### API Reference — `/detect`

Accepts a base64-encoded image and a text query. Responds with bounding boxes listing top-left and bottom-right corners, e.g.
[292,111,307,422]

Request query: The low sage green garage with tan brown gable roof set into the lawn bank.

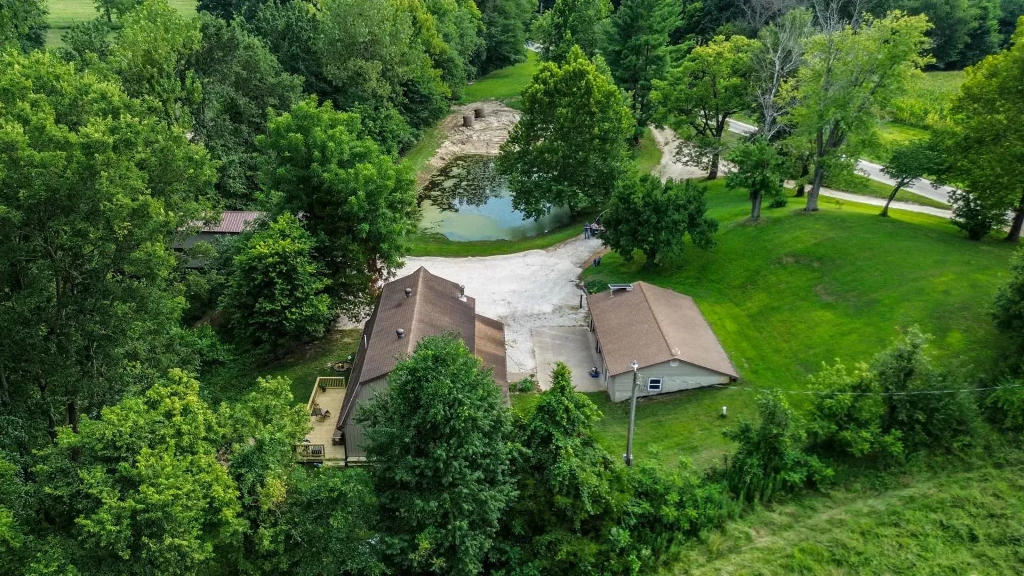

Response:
[587,279,738,404]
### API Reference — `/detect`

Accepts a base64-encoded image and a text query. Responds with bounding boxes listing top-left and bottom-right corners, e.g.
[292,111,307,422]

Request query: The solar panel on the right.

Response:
[612,283,635,300]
